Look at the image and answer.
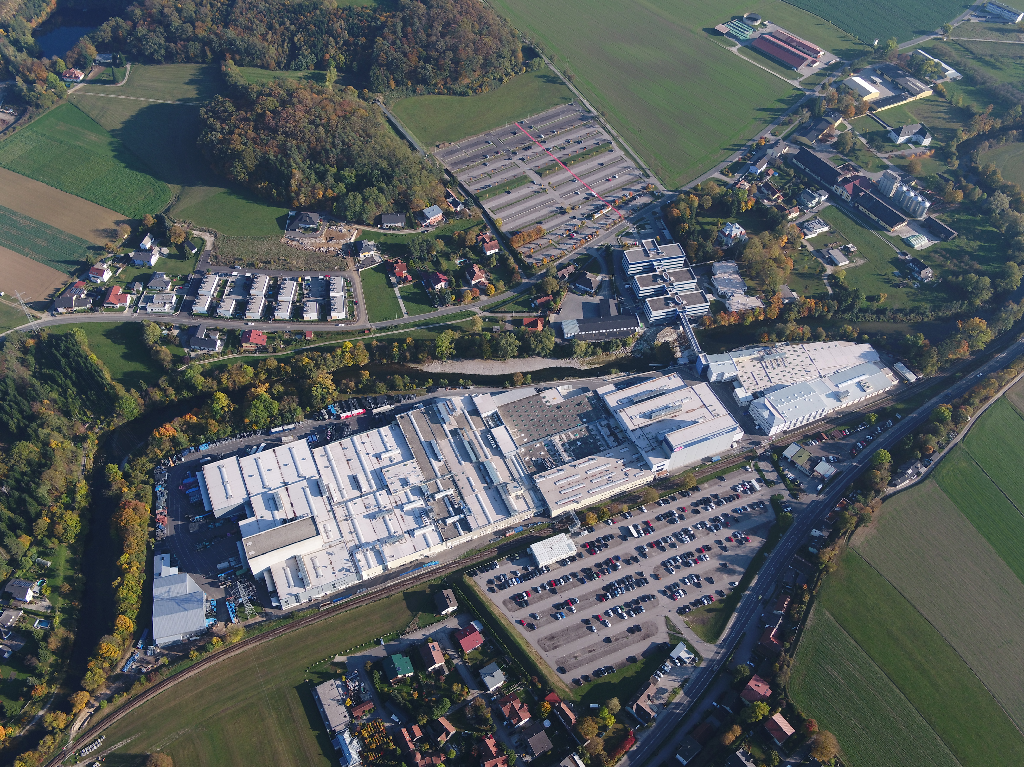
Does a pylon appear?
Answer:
Yes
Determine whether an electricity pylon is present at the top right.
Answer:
No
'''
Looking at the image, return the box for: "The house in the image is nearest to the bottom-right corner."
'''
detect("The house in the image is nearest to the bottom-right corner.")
[764,713,795,745]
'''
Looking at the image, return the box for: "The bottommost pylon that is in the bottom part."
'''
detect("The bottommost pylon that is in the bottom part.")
[227,580,261,622]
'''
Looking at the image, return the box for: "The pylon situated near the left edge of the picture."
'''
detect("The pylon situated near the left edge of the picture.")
[11,290,37,331]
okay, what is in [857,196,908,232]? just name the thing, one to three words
barn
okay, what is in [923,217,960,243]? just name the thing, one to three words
shed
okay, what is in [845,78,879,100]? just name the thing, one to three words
building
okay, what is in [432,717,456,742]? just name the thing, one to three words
house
